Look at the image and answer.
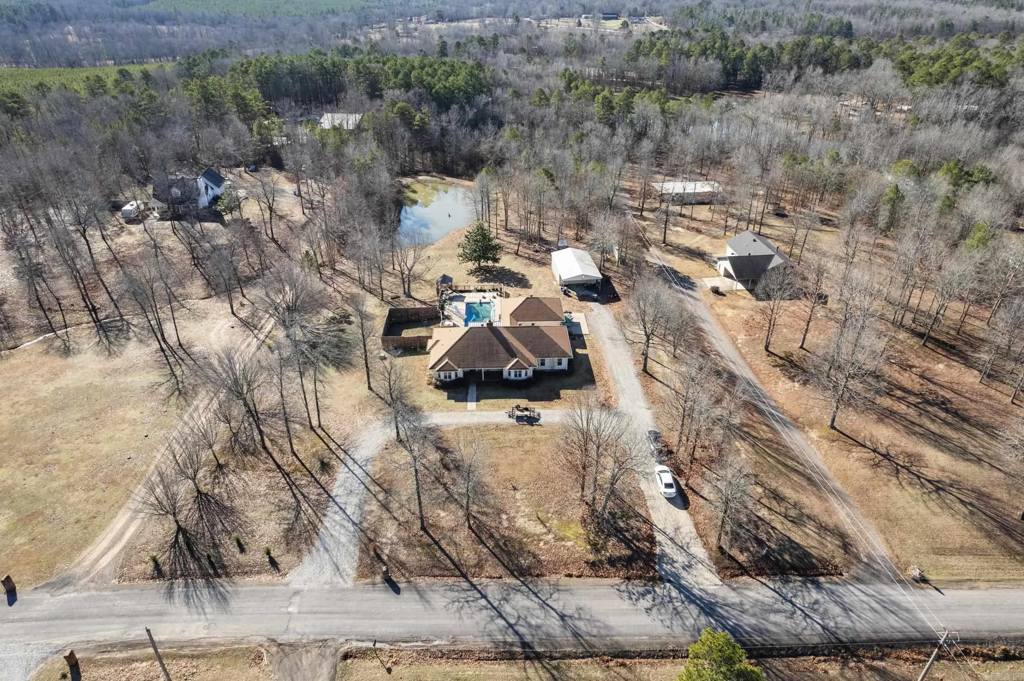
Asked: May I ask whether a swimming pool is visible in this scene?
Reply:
Yes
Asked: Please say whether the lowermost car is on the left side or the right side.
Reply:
right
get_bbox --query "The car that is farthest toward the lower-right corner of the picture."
[656,465,676,494]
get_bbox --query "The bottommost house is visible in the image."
[425,315,573,385]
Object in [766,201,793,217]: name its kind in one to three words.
shed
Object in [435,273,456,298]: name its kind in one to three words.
gazebo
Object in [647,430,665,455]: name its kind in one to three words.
car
